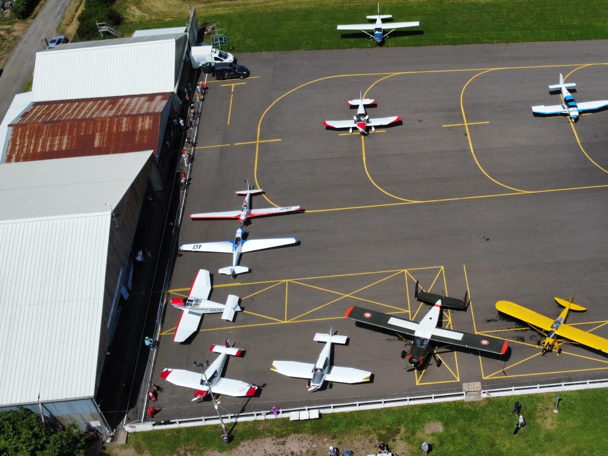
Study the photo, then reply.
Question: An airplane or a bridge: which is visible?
airplane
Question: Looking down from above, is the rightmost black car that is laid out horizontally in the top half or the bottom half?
top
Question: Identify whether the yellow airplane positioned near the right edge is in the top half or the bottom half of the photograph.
bottom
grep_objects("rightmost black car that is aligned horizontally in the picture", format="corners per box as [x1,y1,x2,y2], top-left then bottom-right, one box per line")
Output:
[200,60,246,80]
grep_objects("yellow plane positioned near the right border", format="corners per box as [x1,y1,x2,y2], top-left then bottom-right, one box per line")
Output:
[497,295,608,354]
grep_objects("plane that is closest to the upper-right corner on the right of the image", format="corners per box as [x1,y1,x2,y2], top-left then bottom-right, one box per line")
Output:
[531,76,608,127]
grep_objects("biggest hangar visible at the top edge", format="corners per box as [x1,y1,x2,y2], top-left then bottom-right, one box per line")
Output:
[29,3,207,123]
